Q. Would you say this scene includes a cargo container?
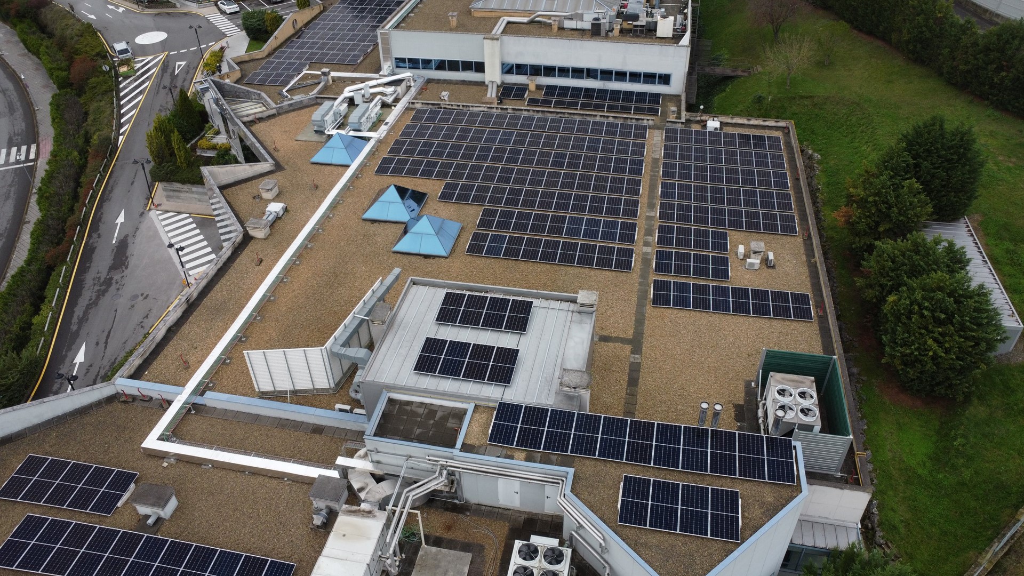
No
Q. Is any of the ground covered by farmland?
No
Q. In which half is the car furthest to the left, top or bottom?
top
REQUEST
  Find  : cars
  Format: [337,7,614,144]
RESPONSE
[108,37,134,60]
[214,0,239,14]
